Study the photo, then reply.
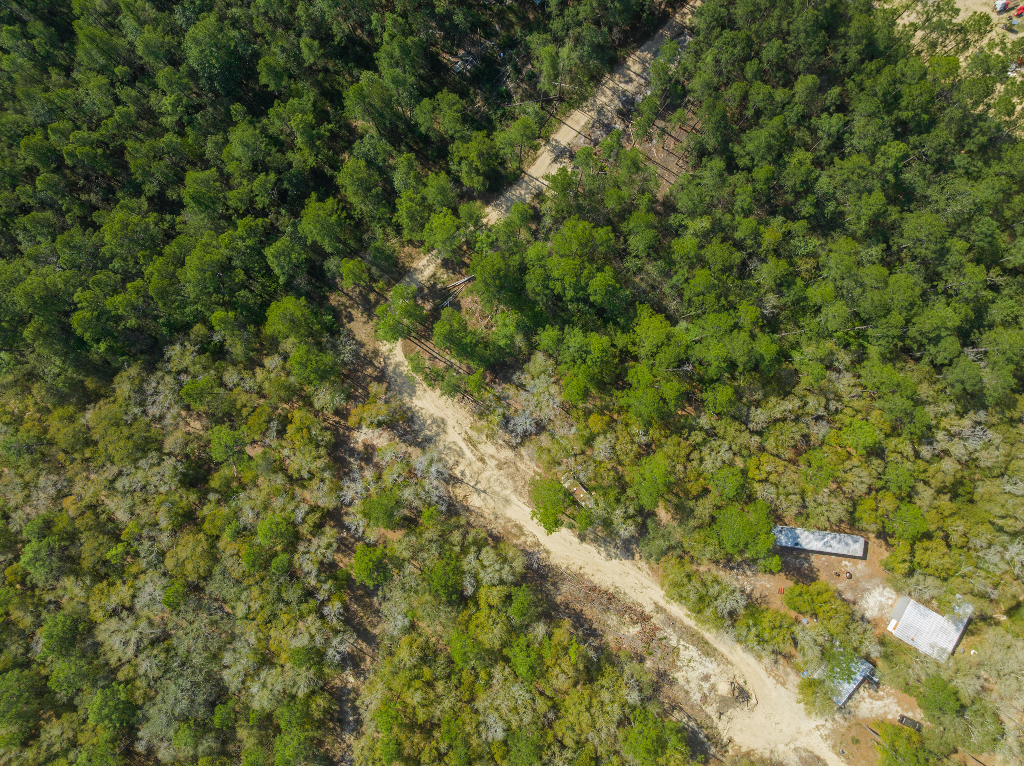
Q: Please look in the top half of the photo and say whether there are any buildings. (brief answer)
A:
No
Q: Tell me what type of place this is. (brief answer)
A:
forest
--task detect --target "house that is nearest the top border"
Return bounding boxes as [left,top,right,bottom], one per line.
[775,525,865,556]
